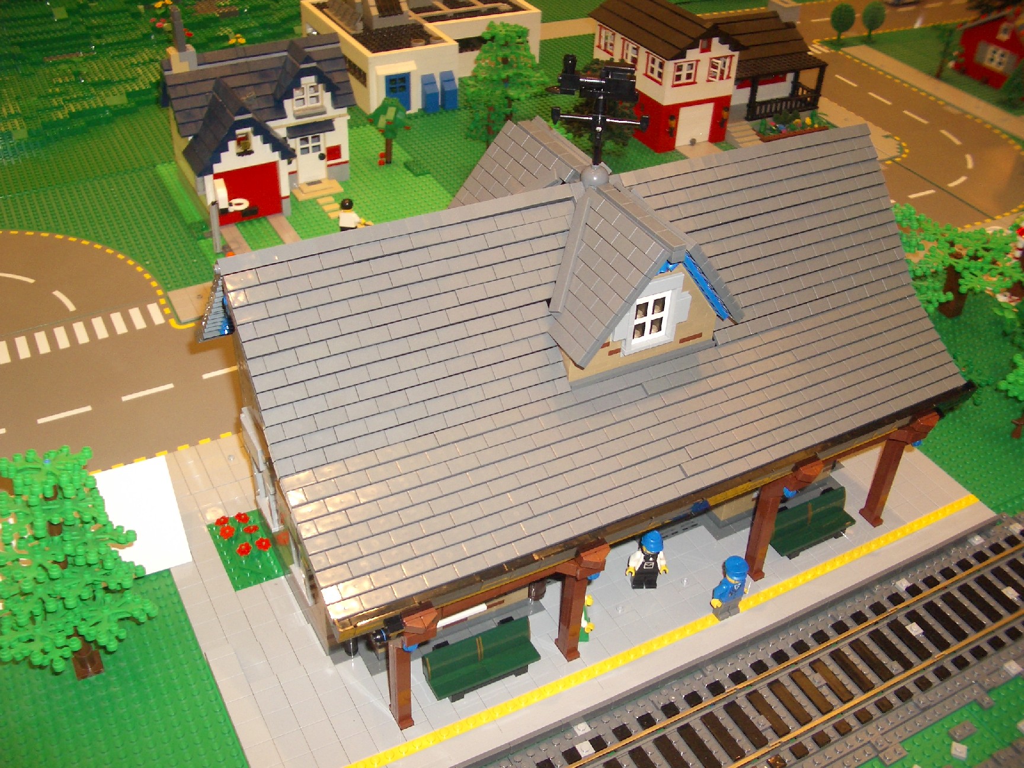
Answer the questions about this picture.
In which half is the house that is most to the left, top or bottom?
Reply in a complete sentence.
The house that is most to the left is in the top half of the image.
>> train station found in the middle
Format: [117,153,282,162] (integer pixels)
[197,124,965,730]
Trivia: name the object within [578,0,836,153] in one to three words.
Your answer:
house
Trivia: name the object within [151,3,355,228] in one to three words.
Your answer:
house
